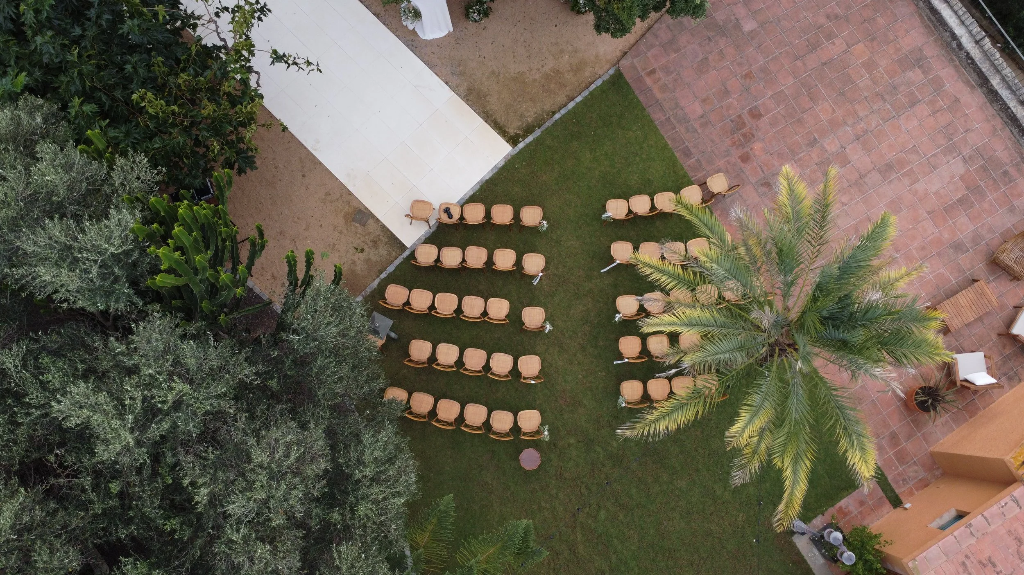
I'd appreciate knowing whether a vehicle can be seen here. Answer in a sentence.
No, I find no vehicle anywhere in the image.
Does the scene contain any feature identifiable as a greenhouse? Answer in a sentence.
No, I find no greenhouse anywhere in the image.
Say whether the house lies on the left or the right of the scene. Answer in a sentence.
The house sits on the right side.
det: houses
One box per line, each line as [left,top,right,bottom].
[848,387,1024,575]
